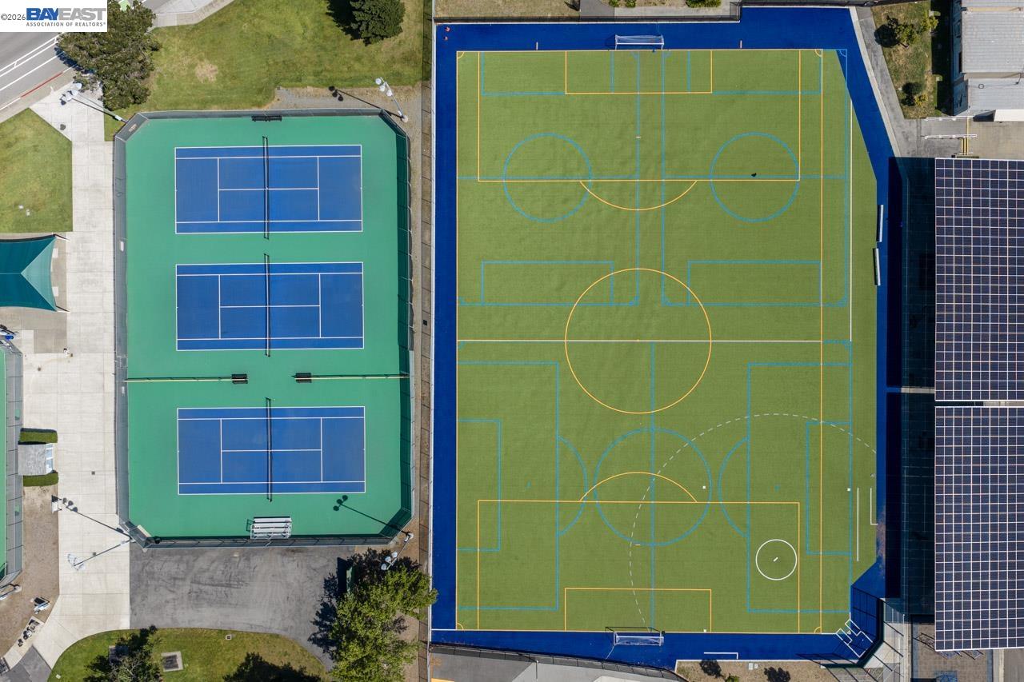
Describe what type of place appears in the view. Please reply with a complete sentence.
The picture captures a sports ground.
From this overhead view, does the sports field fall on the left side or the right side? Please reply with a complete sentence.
The sports field appears in the right half of the scene.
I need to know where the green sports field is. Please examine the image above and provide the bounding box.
[433,7,901,671]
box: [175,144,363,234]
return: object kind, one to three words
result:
tennis court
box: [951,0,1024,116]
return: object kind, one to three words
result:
building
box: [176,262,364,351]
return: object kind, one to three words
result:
tennis court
